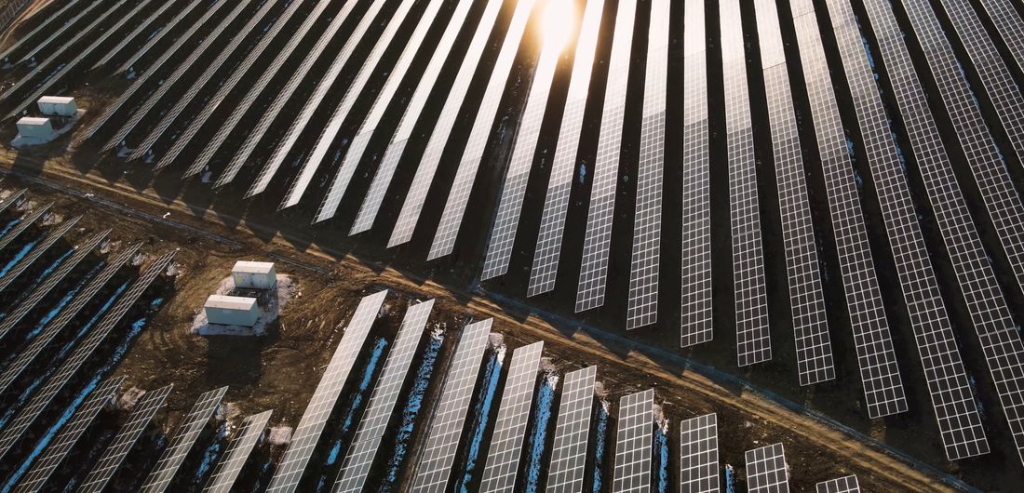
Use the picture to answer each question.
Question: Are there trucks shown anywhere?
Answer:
No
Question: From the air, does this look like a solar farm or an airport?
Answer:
solar farm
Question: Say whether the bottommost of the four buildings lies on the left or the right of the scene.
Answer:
left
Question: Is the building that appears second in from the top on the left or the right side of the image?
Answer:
left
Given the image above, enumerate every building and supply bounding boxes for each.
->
[36,95,79,116]
[12,116,55,138]
[201,292,261,323]
[229,260,277,288]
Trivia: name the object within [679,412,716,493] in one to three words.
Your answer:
solar array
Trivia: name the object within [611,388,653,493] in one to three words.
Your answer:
solar array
